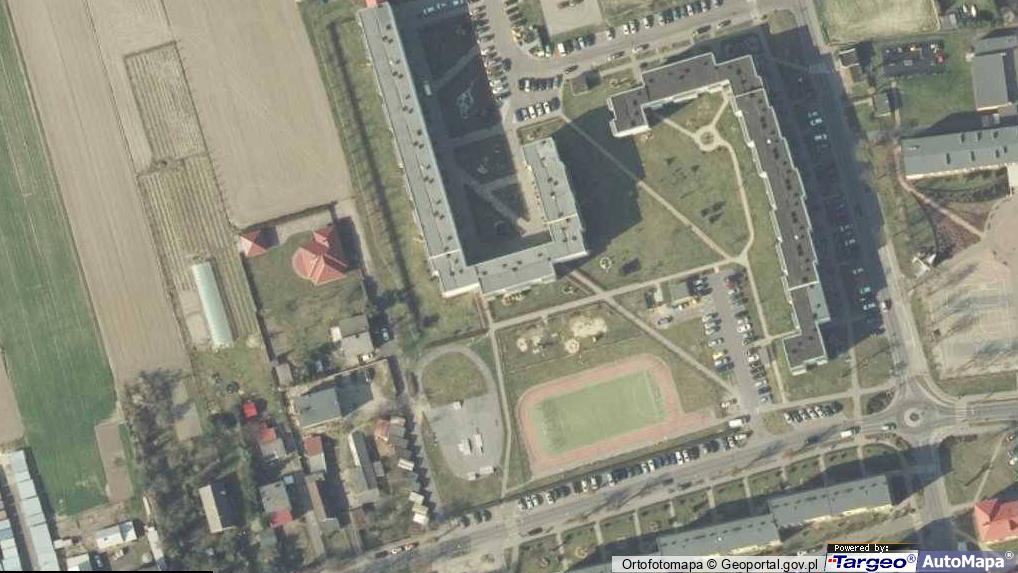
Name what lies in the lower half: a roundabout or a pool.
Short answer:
roundabout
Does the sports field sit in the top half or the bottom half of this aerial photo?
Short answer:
bottom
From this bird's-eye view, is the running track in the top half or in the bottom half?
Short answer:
bottom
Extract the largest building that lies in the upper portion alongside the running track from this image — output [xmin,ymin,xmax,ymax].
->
[607,54,831,372]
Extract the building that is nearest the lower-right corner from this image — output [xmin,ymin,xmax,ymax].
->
[974,497,1018,546]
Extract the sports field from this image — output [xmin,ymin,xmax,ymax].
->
[515,351,720,480]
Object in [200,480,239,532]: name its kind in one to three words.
house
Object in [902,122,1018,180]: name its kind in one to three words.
building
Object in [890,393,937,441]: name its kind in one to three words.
roundabout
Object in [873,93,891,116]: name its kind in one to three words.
shed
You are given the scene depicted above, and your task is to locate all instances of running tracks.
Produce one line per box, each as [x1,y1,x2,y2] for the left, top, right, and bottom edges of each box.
[517,353,717,477]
